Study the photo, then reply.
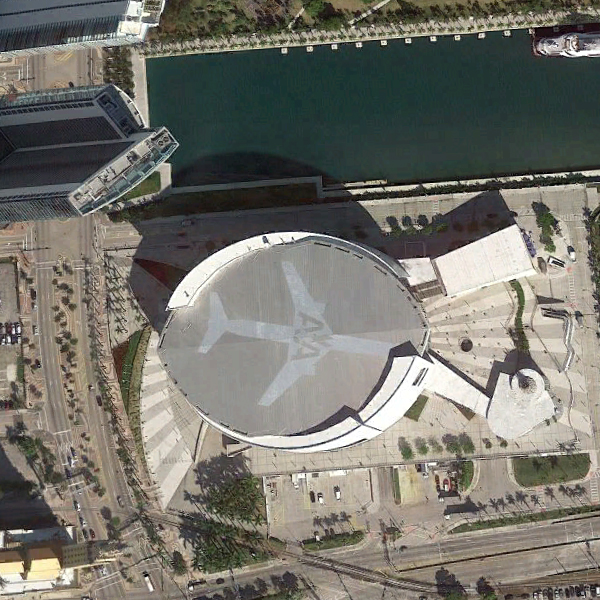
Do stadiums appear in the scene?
Yes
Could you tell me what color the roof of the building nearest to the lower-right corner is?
white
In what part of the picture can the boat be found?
top right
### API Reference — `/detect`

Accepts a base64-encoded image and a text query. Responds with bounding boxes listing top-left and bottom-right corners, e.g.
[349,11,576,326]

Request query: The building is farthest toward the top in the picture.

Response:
[0,0,166,80]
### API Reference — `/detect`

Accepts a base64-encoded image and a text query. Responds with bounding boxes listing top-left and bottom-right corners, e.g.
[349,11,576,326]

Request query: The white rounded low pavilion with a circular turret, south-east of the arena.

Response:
[483,369,554,440]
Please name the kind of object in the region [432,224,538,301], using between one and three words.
building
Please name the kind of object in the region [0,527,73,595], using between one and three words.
building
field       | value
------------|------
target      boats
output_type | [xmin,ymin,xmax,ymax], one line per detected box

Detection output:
[536,34,600,57]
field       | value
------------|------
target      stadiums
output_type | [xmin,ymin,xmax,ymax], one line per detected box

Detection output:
[157,233,434,452]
